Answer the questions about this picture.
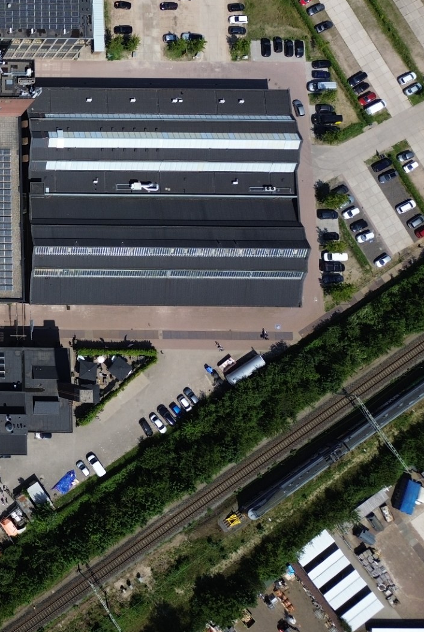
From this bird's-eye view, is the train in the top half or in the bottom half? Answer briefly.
bottom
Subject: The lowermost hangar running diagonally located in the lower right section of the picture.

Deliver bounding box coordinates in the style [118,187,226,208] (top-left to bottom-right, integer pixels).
[292,526,384,632]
